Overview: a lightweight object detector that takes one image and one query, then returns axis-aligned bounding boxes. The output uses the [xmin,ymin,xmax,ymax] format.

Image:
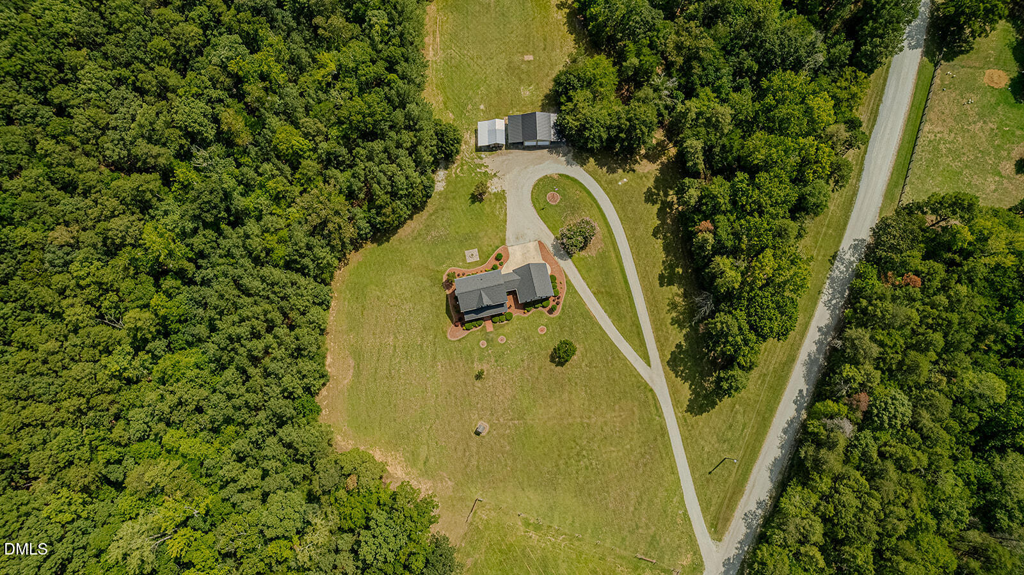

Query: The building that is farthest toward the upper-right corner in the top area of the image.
[508,111,557,148]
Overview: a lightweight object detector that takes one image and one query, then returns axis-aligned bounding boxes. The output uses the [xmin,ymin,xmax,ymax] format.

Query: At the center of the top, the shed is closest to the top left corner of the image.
[478,119,505,150]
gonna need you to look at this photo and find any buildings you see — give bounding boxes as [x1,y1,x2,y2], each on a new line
[508,111,557,148]
[453,263,554,322]
[478,119,505,150]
